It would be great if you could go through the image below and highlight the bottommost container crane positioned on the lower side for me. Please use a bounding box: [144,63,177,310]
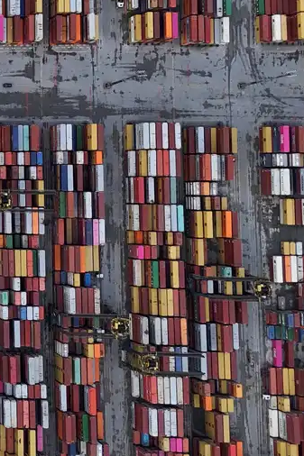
[111,336,206,379]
